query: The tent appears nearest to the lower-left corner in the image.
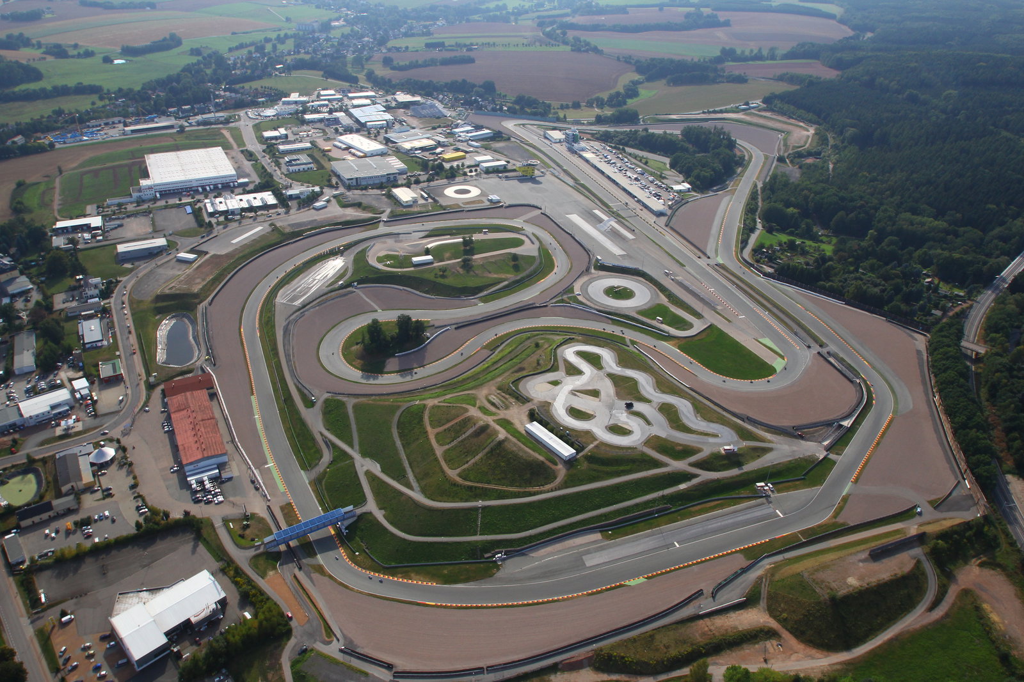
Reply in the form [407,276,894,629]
[90,447,118,469]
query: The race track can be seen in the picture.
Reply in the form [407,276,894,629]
[244,118,894,603]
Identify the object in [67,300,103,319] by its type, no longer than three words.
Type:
building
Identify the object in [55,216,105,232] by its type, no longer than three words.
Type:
building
